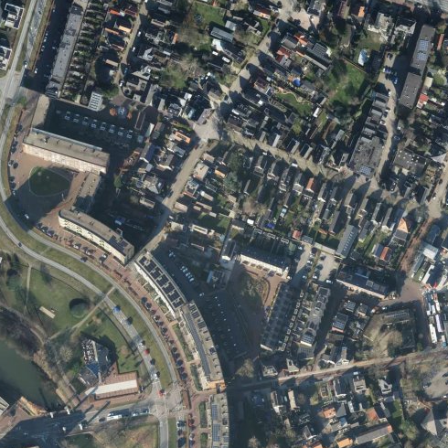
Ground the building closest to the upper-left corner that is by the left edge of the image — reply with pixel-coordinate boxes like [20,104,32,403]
[1,2,24,26]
